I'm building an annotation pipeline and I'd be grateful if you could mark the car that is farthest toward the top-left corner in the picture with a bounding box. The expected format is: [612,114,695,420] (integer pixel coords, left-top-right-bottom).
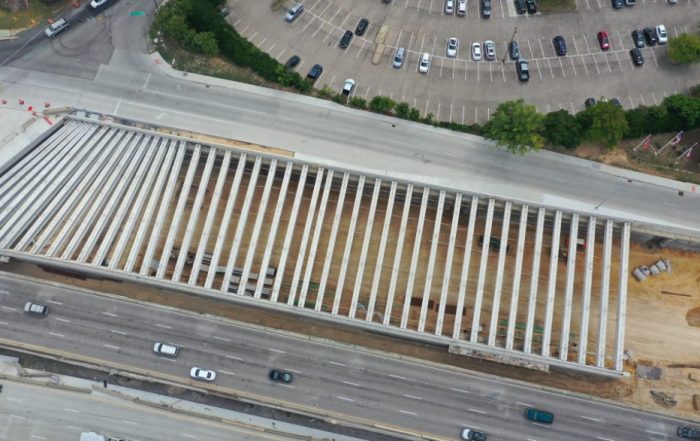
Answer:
[47,18,68,36]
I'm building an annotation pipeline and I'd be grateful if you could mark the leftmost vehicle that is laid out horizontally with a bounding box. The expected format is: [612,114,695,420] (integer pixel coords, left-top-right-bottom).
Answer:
[25,302,49,316]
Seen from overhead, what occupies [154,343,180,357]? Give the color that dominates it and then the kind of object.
white vehicle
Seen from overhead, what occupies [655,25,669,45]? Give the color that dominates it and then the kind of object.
white vehicle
